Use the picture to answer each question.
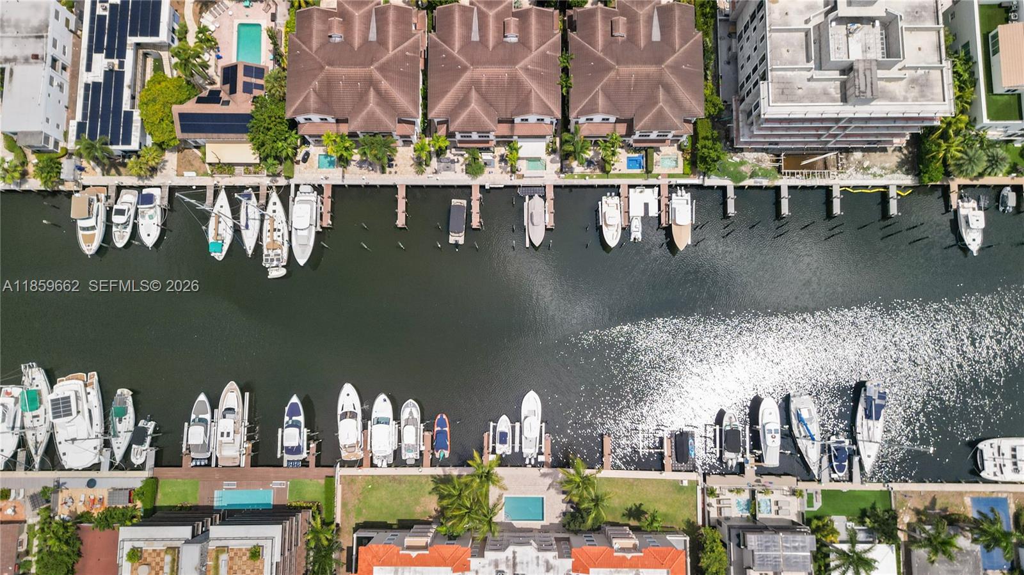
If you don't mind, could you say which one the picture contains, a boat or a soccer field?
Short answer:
boat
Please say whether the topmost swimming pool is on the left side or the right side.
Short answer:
left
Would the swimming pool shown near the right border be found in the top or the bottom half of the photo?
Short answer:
bottom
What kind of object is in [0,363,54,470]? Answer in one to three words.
boat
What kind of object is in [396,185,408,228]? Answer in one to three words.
pier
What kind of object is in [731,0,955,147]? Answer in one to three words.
building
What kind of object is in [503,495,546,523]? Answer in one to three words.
swimming pool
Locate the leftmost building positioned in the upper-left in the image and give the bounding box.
[0,0,79,157]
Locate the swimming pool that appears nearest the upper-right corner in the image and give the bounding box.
[659,153,679,169]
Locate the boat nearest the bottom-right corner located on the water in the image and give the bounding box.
[968,437,1024,482]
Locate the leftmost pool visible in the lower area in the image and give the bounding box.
[213,489,274,510]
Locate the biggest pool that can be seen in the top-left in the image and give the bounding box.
[233,19,265,65]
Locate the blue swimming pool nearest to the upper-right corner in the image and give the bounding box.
[625,153,645,170]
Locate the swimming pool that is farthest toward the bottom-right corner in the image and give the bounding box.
[966,492,1015,575]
